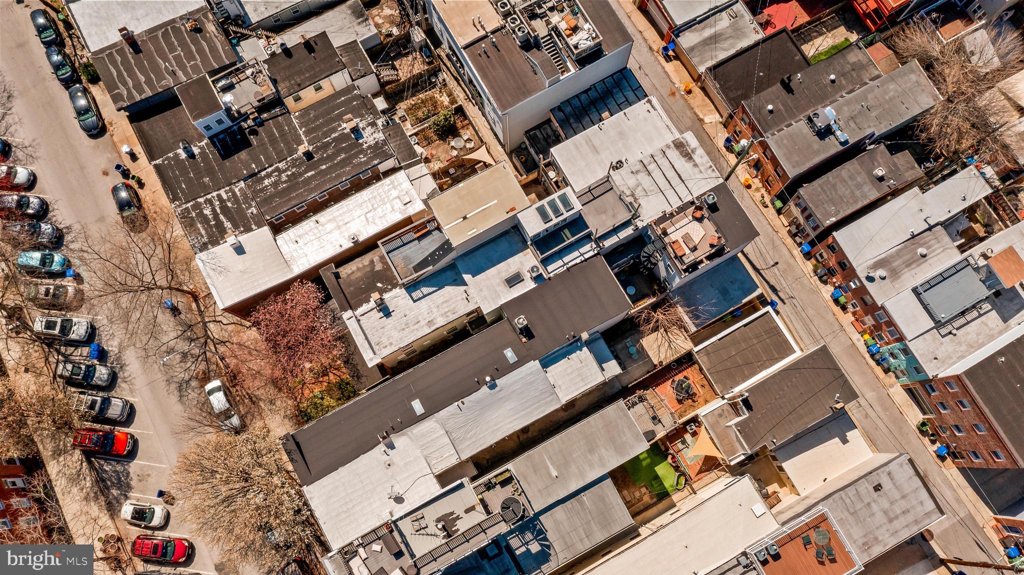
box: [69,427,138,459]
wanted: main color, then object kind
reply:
red car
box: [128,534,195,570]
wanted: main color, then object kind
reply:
red car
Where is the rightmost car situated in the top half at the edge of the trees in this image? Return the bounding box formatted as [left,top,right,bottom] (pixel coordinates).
[113,180,153,234]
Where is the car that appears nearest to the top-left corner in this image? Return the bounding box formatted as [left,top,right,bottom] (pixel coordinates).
[28,5,65,49]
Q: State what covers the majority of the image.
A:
buildings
